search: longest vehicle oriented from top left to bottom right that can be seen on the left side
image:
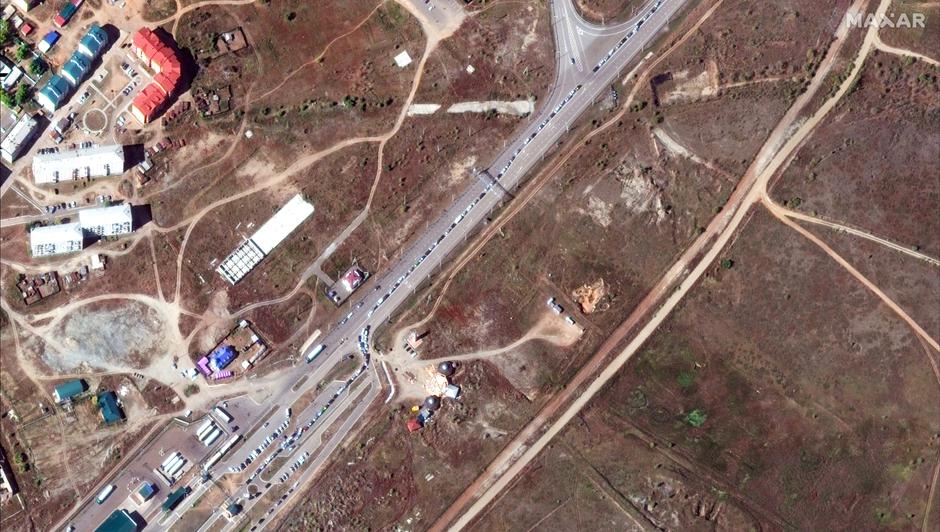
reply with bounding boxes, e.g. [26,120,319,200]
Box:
[214,405,232,423]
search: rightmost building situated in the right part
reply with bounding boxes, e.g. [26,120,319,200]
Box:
[650,72,673,108]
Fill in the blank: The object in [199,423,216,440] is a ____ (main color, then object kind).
white vehicle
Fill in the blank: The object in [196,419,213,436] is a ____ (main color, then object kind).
white vehicle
